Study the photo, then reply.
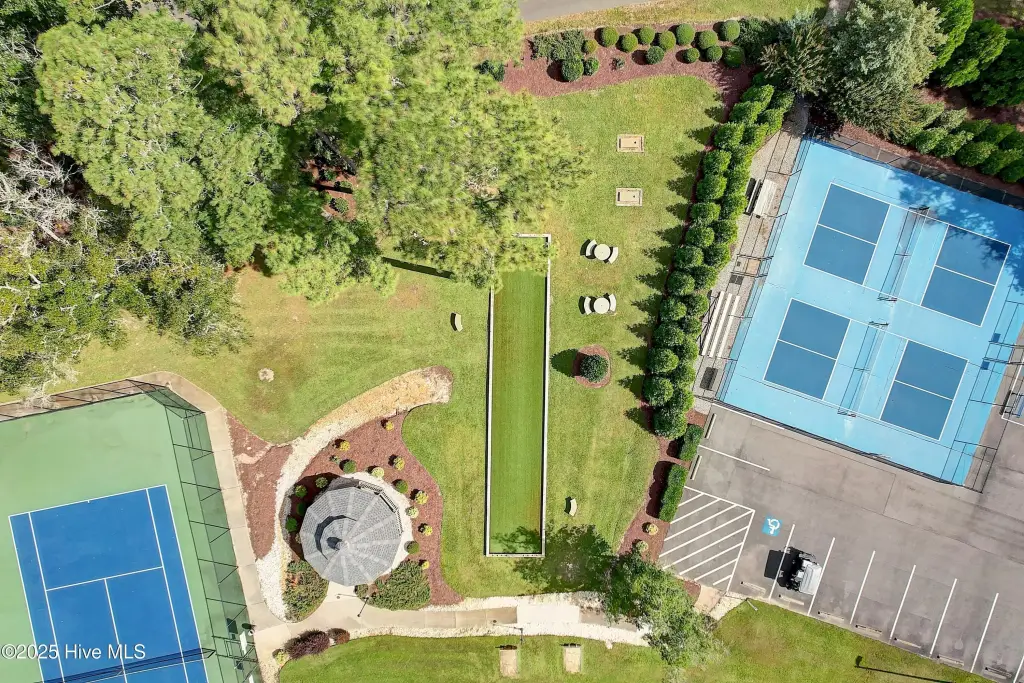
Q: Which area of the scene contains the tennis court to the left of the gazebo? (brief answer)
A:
bottom left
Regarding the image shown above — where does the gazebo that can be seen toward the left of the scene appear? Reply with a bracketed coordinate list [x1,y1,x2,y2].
[301,472,414,587]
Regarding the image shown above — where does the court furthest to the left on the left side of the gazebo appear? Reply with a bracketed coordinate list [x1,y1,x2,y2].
[0,387,264,683]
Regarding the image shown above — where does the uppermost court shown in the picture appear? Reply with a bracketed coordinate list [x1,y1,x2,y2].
[761,138,1024,354]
